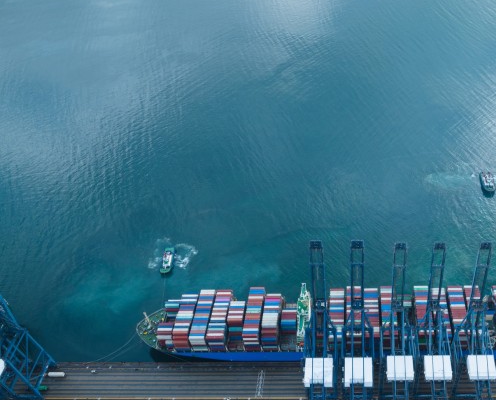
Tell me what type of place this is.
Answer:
port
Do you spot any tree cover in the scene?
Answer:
No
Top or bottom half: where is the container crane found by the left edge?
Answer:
bottom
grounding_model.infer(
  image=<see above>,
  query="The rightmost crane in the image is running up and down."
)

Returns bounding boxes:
[453,240,496,400]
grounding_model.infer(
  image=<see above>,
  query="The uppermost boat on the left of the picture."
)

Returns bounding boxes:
[158,248,173,275]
